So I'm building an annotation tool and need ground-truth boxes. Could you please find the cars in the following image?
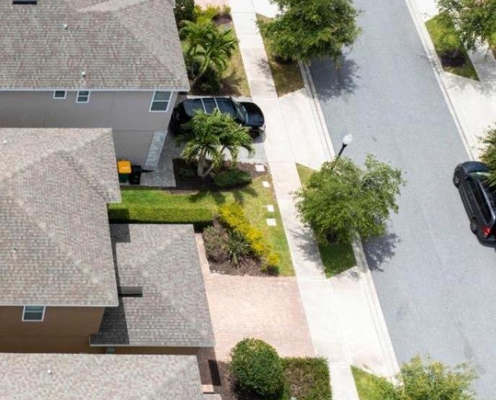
[451,162,496,240]
[168,103,258,146]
